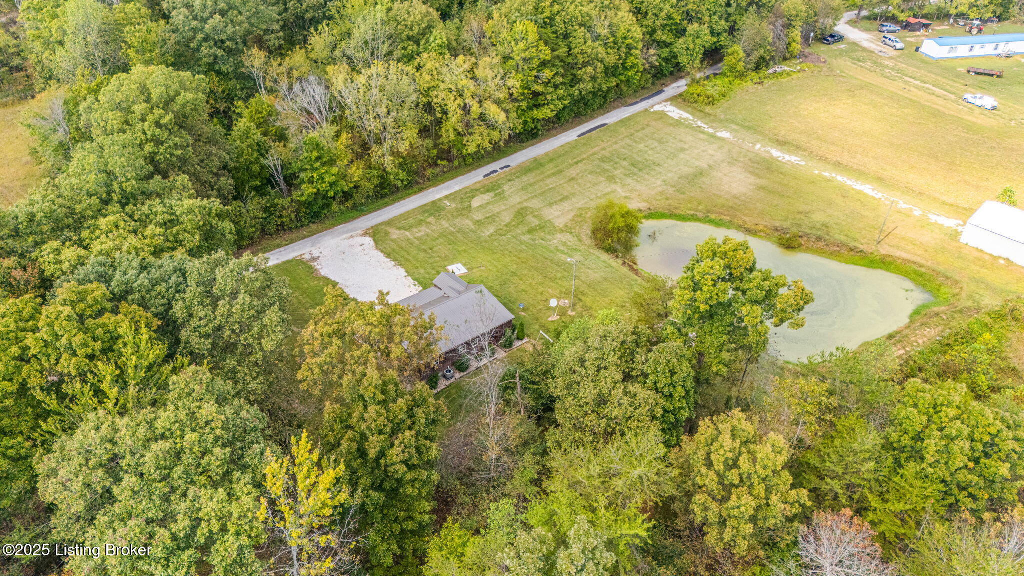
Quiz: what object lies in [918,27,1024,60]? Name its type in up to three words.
house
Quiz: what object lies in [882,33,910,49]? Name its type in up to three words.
car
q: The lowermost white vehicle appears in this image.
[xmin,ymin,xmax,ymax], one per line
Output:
[962,91,1003,108]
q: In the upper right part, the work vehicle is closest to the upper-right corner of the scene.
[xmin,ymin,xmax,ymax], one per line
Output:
[967,18,987,33]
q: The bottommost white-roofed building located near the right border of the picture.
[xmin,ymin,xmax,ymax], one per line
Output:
[961,201,1024,267]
